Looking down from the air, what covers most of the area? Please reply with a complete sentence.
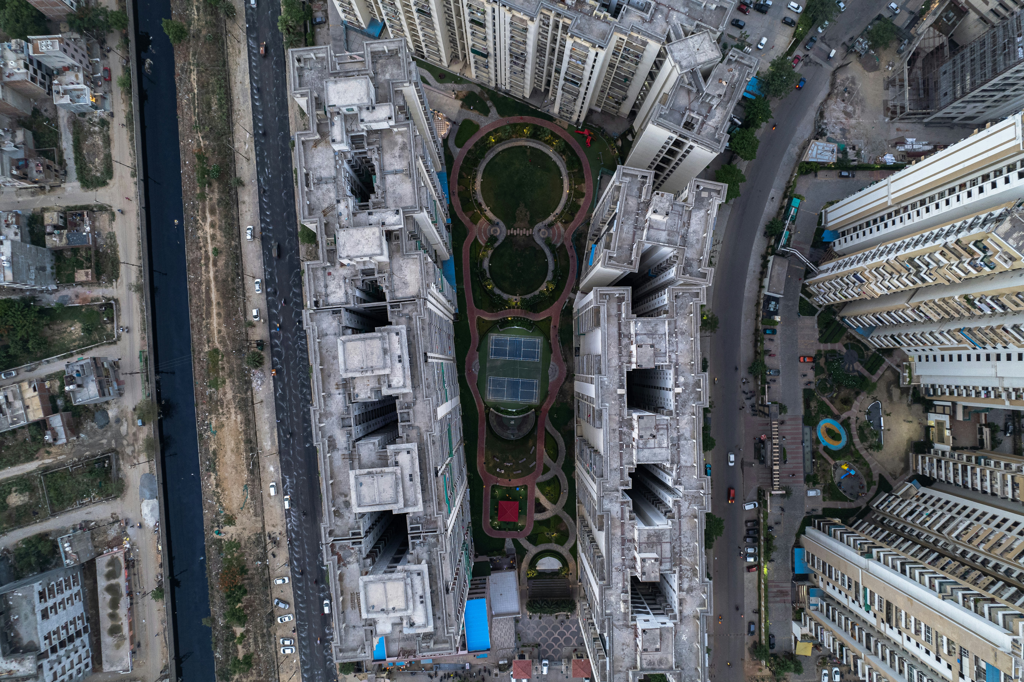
The largest share of the image is taken up by buildings.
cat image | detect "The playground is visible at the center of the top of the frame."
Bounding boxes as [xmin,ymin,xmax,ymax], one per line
[566,123,617,188]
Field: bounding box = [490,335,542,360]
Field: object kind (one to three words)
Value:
sports court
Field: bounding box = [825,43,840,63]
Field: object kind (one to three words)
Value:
vehicle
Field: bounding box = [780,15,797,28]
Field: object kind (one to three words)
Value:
vehicle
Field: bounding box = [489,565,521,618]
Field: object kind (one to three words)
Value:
building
